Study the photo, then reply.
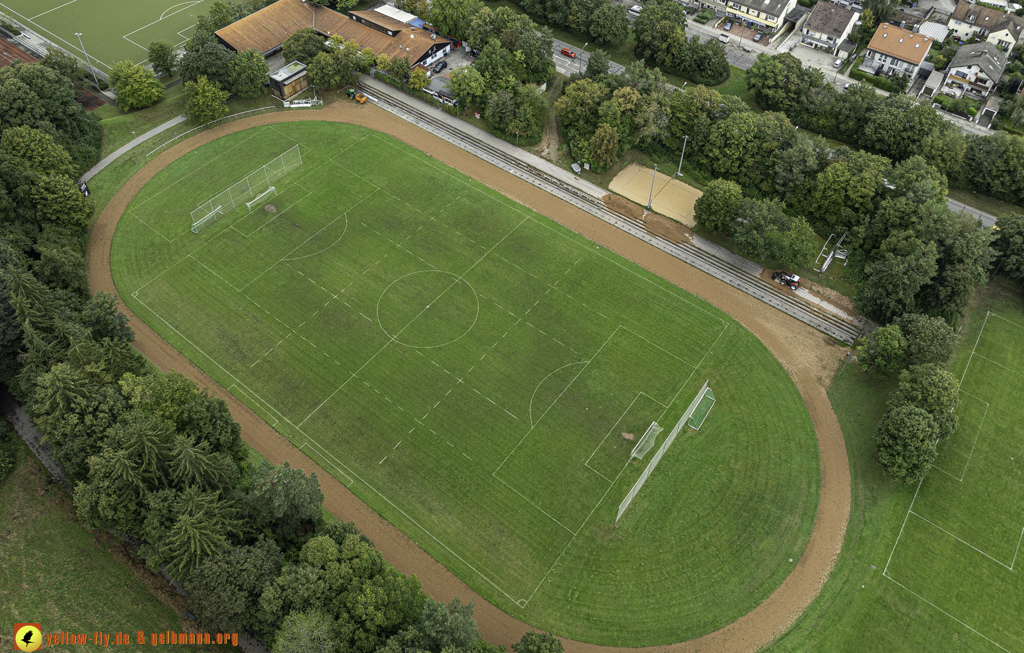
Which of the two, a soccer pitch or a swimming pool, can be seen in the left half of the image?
soccer pitch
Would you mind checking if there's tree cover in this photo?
Yes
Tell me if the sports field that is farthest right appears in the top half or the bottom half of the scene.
bottom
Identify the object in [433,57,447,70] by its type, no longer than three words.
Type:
vehicle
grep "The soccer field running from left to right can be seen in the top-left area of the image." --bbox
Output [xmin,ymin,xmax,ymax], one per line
[0,0,282,79]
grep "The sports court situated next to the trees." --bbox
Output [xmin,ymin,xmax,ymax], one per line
[609,162,707,227]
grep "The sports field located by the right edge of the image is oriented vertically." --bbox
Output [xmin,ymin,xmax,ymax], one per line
[883,314,1024,653]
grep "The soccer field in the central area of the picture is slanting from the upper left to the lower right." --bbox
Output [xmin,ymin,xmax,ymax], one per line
[116,122,819,644]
